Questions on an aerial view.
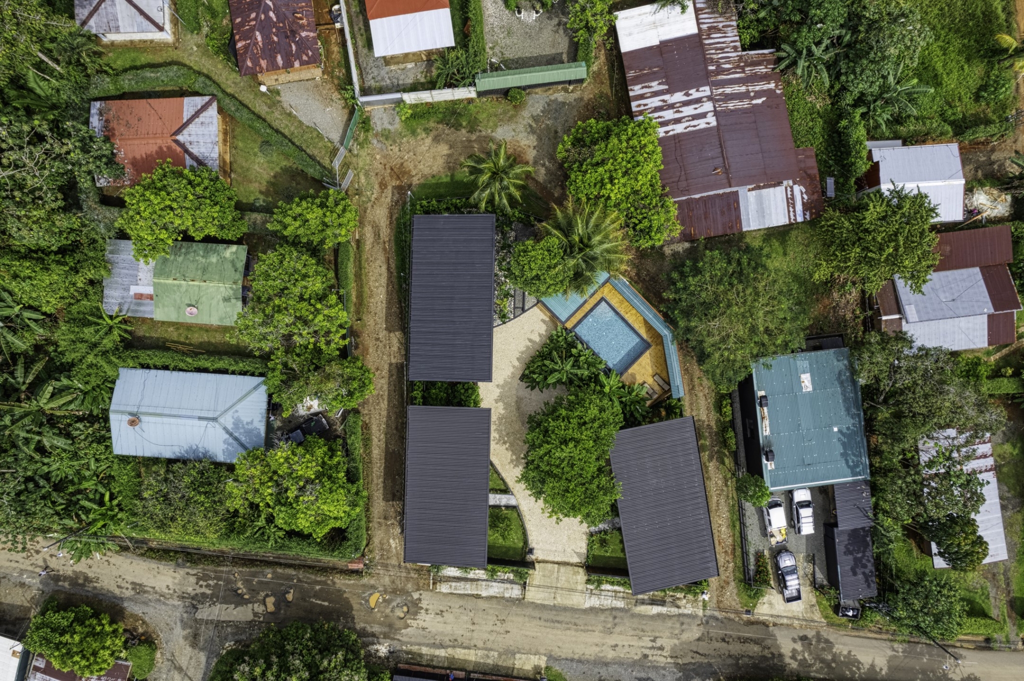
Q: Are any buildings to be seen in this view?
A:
Yes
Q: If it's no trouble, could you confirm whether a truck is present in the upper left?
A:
No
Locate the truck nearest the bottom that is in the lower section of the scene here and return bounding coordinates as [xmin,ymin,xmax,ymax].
[773,547,803,605]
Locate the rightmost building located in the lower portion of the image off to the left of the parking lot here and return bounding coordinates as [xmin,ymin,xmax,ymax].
[608,415,721,596]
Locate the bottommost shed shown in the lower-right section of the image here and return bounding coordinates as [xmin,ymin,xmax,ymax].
[818,518,878,602]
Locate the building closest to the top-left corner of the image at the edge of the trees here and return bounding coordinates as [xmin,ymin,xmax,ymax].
[75,0,173,41]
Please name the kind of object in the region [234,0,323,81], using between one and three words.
house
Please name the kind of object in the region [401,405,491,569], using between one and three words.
building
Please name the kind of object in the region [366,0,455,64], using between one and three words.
house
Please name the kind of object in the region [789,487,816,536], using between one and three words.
truck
